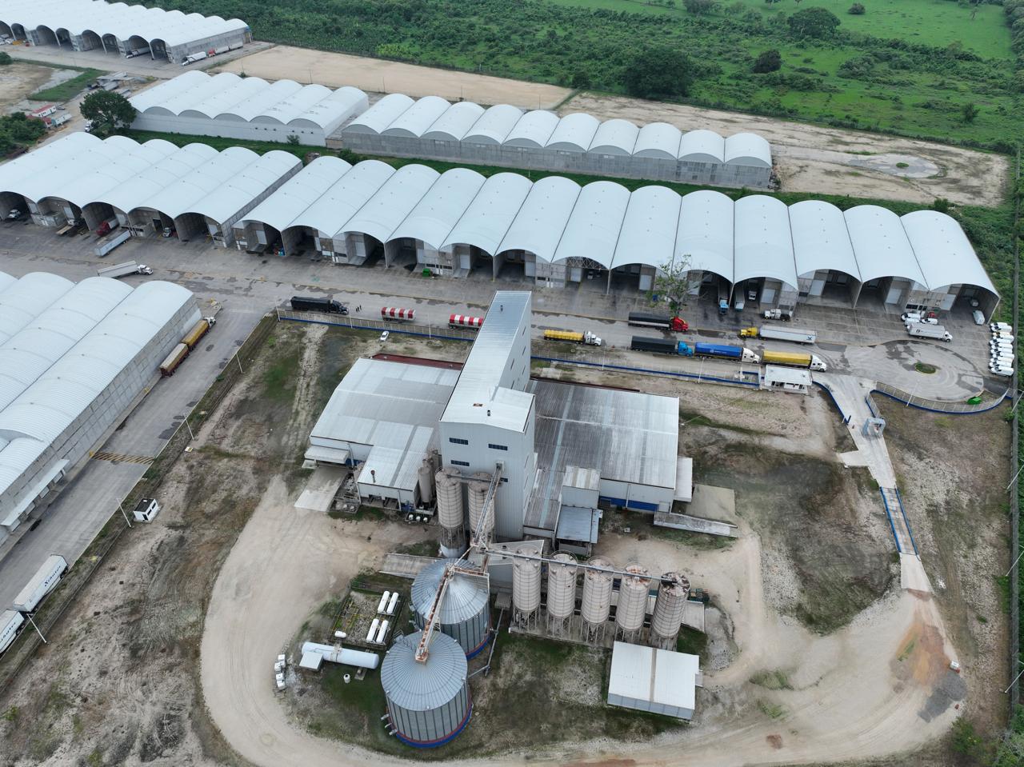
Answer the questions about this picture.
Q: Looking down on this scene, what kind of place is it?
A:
industrial area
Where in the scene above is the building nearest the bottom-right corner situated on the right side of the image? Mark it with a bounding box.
[607,640,702,722]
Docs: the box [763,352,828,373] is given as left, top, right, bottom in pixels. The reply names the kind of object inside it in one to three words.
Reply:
truck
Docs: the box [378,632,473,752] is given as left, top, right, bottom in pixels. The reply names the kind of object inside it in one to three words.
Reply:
silo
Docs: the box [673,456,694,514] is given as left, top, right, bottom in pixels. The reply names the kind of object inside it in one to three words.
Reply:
building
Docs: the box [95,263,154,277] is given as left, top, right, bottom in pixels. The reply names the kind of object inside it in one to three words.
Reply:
vehicle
